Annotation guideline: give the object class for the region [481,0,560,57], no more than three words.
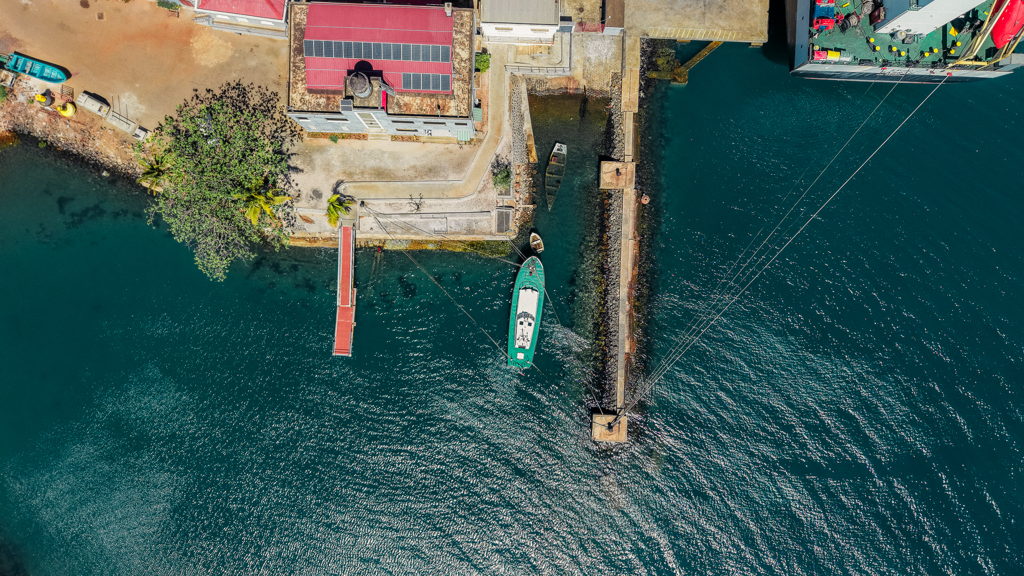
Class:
building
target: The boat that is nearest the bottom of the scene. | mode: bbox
[507,256,545,370]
